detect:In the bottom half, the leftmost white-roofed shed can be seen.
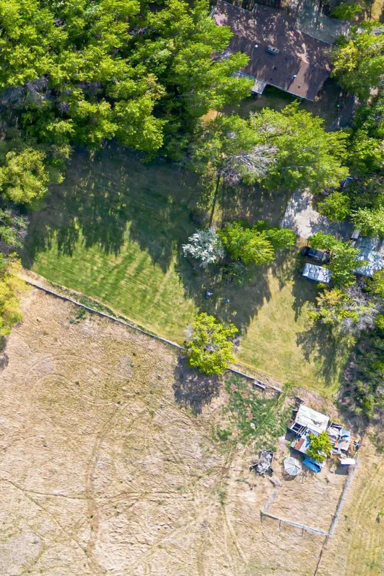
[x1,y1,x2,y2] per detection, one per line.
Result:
[288,402,329,461]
